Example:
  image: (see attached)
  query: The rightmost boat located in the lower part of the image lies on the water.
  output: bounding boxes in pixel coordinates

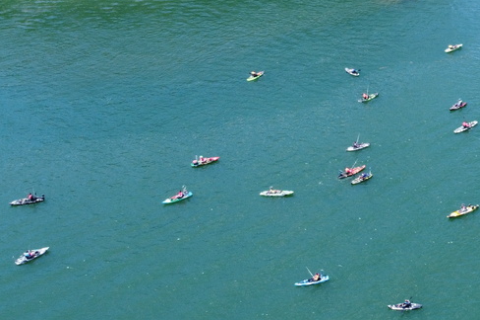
[448,204,479,217]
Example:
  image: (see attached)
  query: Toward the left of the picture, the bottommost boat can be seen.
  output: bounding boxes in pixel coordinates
[14,246,47,265]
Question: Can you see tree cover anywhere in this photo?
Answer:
No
